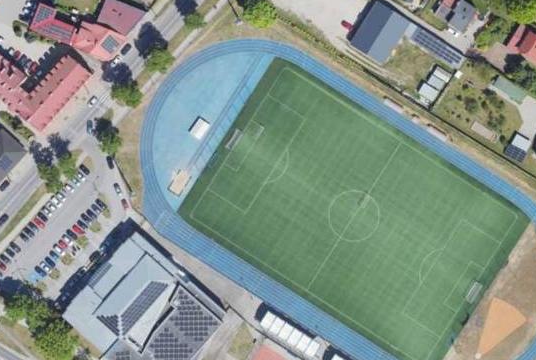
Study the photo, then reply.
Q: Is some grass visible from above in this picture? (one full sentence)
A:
Yes, there's grass in this view.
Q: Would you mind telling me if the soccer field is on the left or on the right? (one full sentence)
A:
The soccer field is on the right side of the image.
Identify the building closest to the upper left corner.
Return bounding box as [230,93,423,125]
[29,1,77,45]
